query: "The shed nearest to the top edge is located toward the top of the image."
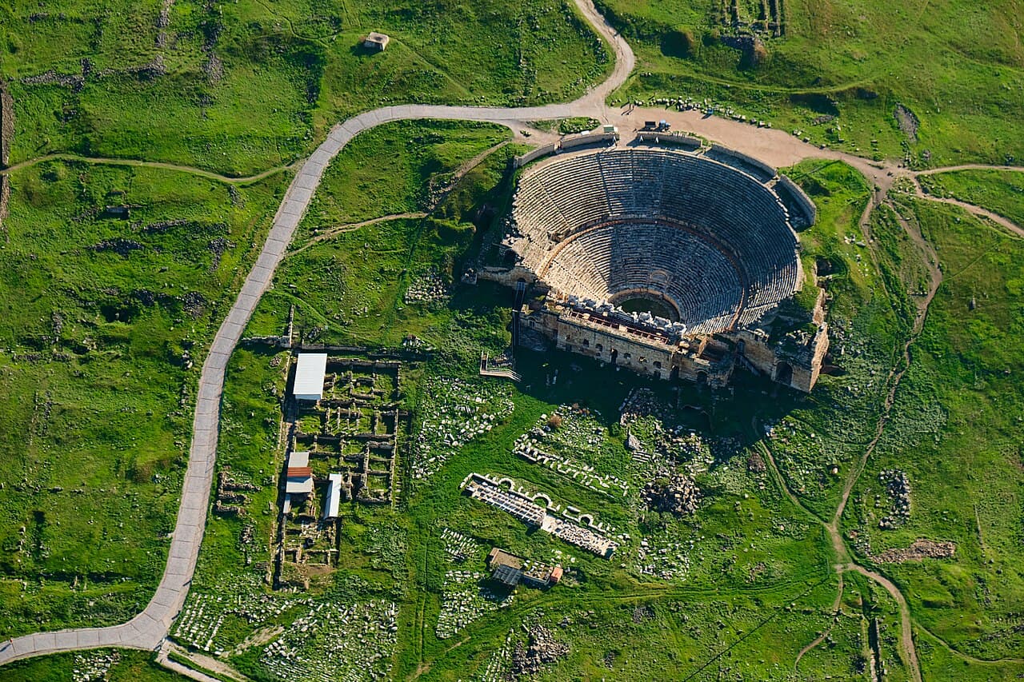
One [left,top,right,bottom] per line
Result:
[365,32,389,51]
